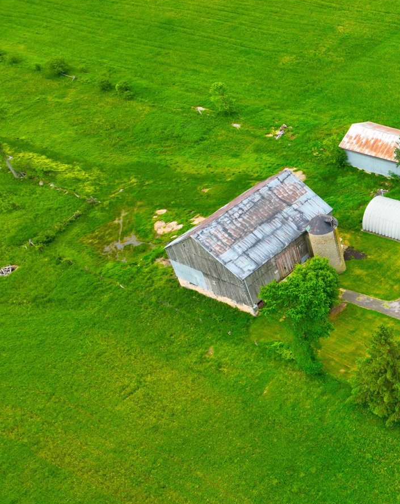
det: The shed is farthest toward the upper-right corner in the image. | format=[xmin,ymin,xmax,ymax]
[340,124,400,179]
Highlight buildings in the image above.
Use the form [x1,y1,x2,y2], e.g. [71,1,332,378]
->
[340,124,400,179]
[360,190,400,242]
[163,172,333,316]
